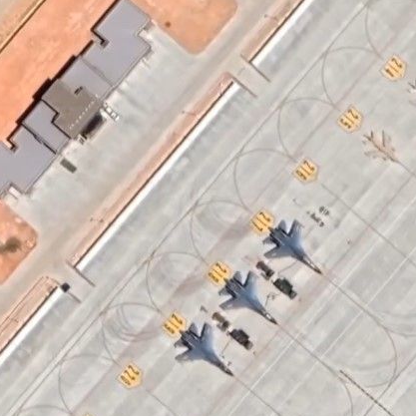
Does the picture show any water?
No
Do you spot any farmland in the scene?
No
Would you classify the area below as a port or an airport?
airport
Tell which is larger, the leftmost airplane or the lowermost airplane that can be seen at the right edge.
the leftmost airplane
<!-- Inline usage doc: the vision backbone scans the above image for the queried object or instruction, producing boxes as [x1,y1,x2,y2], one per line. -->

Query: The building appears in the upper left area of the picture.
[0,0,151,199]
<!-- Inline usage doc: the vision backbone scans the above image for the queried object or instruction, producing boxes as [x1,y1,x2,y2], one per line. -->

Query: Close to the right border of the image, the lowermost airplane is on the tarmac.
[360,127,397,161]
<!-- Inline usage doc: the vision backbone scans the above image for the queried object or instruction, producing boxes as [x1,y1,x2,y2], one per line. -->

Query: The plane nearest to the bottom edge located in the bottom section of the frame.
[174,323,233,376]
